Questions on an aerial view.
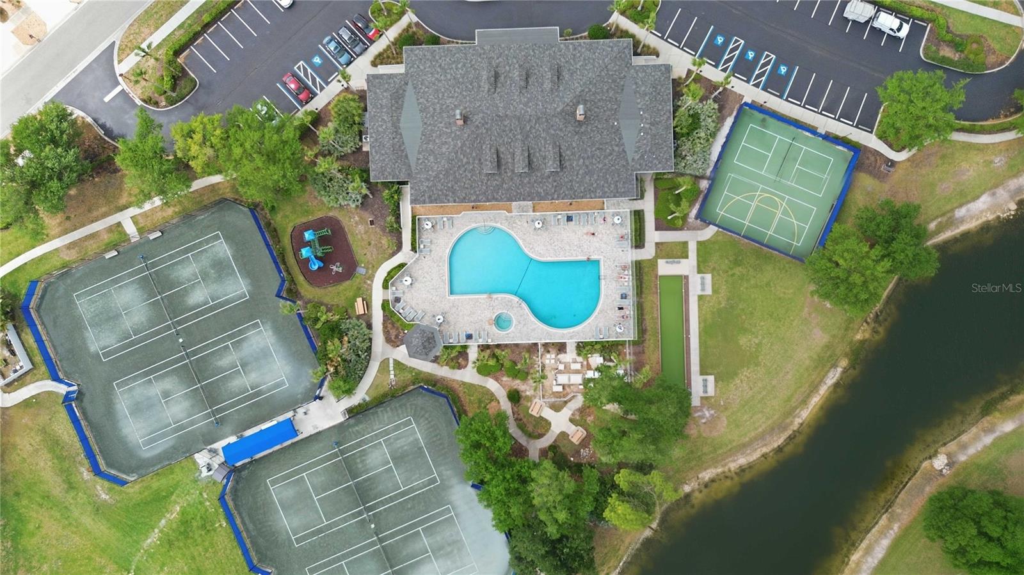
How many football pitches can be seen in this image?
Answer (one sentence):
The photo contains no football pitches.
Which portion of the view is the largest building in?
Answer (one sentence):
The largest building is in the top part of the image.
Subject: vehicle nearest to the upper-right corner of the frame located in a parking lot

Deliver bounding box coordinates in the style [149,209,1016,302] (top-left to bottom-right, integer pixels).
[871,10,909,37]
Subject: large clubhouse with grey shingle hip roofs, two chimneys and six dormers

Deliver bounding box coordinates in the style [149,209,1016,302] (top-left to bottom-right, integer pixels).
[366,26,675,206]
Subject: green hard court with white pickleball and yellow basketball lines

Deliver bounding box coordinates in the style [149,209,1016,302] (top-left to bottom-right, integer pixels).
[700,108,854,255]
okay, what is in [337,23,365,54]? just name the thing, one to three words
car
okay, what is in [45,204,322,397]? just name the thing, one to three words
tennis court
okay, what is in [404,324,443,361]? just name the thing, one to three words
gazebo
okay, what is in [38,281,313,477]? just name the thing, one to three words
tennis court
